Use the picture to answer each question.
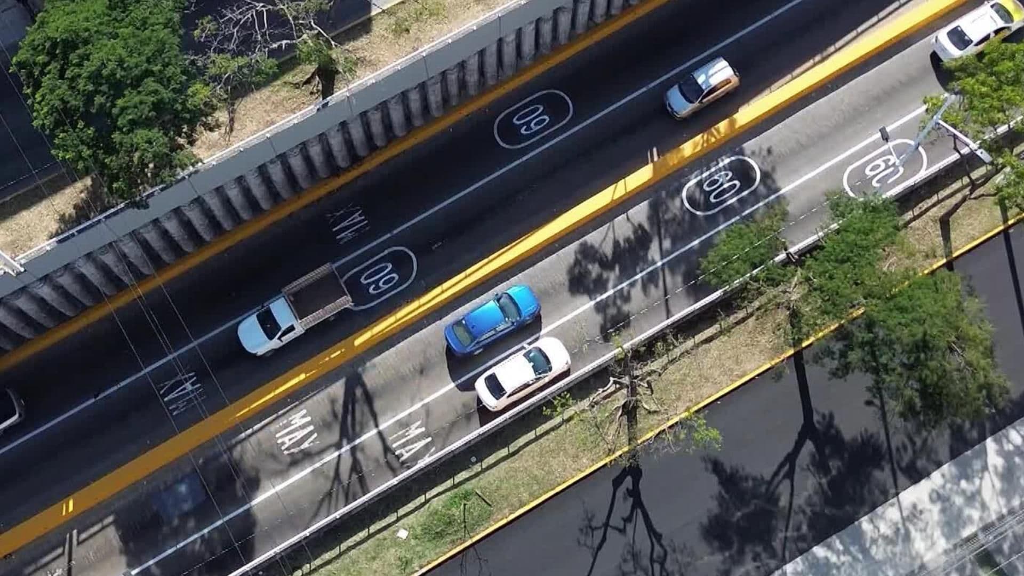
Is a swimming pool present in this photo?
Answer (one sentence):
No, the frame has no swimming pool in it.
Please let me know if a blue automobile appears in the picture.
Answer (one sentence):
Yes, you can see a blue automobile in this photo.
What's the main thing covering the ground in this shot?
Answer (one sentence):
What you mostly see from above here is paved ground.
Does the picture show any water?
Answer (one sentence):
No, the picture contains no water.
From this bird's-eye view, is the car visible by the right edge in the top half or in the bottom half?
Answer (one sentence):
The car visible by the right edge is in the top half of the image.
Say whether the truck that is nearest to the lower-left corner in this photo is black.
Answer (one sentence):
Yes, black is the color of the truck that is nearest to the lower-left corner.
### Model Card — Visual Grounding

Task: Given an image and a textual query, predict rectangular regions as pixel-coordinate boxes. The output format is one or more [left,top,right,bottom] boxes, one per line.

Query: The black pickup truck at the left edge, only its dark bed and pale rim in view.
[0,385,34,435]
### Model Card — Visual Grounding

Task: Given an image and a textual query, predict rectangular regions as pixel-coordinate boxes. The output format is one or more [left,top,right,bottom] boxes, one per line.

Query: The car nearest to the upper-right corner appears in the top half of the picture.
[926,0,1019,64]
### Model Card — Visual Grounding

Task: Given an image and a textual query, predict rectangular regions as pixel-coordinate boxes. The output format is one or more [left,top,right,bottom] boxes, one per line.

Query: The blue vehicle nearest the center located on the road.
[445,284,544,360]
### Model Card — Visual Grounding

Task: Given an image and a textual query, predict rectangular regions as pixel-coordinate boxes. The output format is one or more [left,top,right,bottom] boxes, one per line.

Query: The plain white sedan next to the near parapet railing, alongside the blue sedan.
[475,335,575,412]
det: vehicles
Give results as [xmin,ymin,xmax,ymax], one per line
[475,335,575,412]
[235,264,353,357]
[661,54,744,120]
[926,0,1019,64]
[0,385,34,435]
[445,284,544,360]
